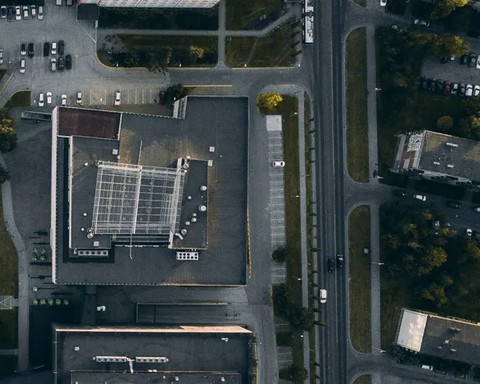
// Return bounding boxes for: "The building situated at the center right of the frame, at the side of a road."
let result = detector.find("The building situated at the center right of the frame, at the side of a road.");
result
[394,130,480,194]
